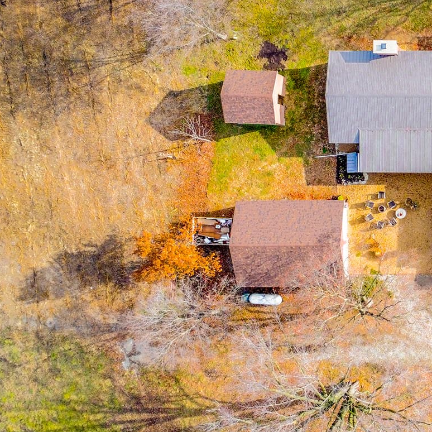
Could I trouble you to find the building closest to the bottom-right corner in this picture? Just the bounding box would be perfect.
[228,200,347,287]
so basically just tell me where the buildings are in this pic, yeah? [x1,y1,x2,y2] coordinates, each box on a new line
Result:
[221,72,283,124]
[325,41,432,174]
[228,200,347,287]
